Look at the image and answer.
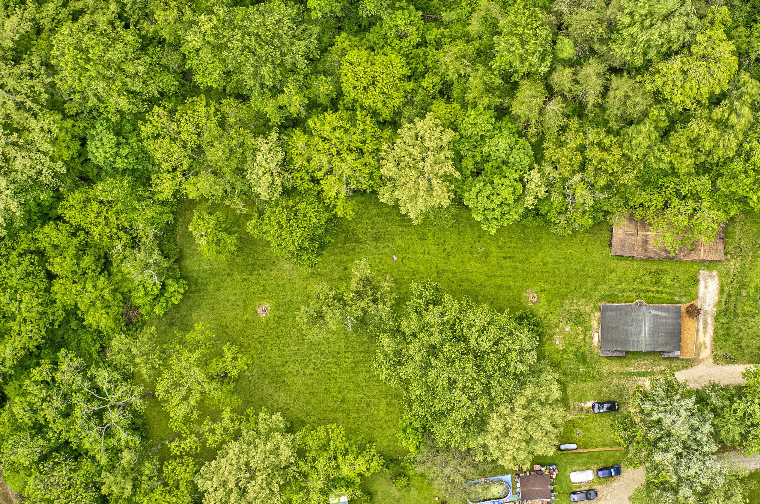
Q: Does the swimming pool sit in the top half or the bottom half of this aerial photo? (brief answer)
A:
bottom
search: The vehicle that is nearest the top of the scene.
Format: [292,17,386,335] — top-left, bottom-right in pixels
[591,400,619,413]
